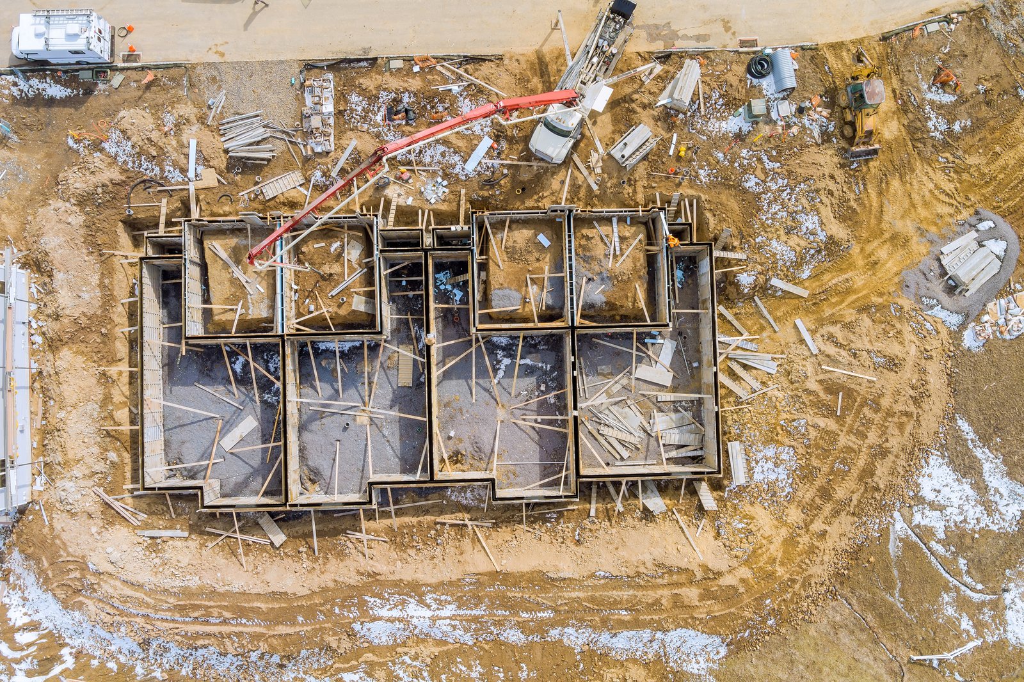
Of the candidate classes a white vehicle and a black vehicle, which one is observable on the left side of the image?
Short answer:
white vehicle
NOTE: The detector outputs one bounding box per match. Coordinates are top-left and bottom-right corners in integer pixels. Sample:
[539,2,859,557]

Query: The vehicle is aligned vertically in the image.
[842,45,891,162]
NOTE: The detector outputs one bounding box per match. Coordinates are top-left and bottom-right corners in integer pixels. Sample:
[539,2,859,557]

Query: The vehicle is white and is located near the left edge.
[9,12,117,65]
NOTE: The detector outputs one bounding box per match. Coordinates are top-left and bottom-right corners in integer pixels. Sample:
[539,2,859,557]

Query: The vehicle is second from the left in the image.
[247,0,656,280]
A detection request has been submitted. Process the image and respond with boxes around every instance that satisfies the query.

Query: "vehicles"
[842,45,891,162]
[247,0,656,280]
[9,12,117,65]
